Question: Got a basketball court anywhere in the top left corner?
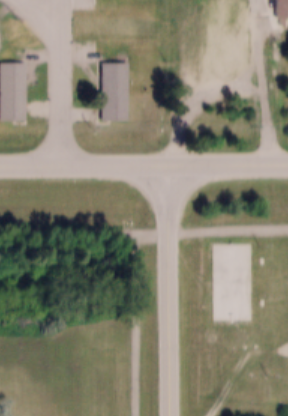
No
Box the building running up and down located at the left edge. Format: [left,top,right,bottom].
[0,62,26,122]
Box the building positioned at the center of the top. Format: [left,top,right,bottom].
[100,62,129,121]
